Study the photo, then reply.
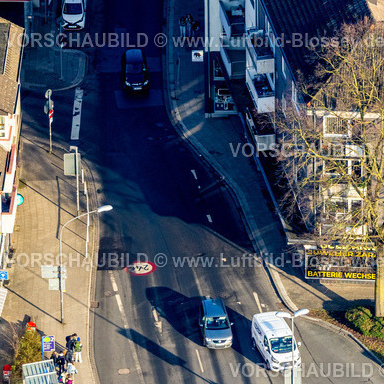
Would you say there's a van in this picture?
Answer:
Yes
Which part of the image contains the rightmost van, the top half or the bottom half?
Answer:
bottom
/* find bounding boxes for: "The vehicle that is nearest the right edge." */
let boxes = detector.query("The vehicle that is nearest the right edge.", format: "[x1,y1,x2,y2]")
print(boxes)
[242,298,299,368]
